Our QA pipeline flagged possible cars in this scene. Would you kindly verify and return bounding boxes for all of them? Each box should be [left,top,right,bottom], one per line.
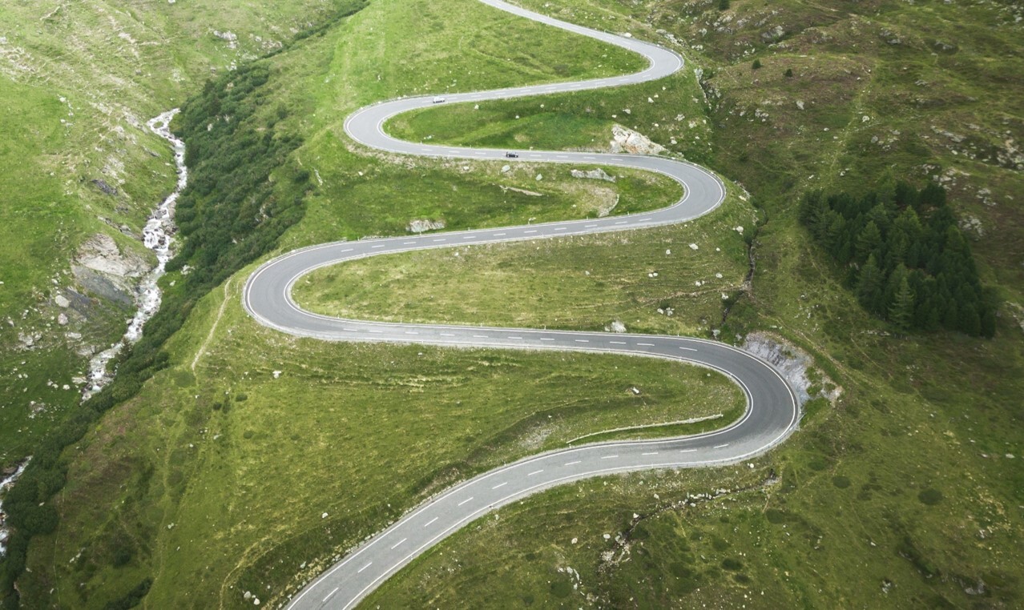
[505,151,518,157]
[432,96,444,102]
